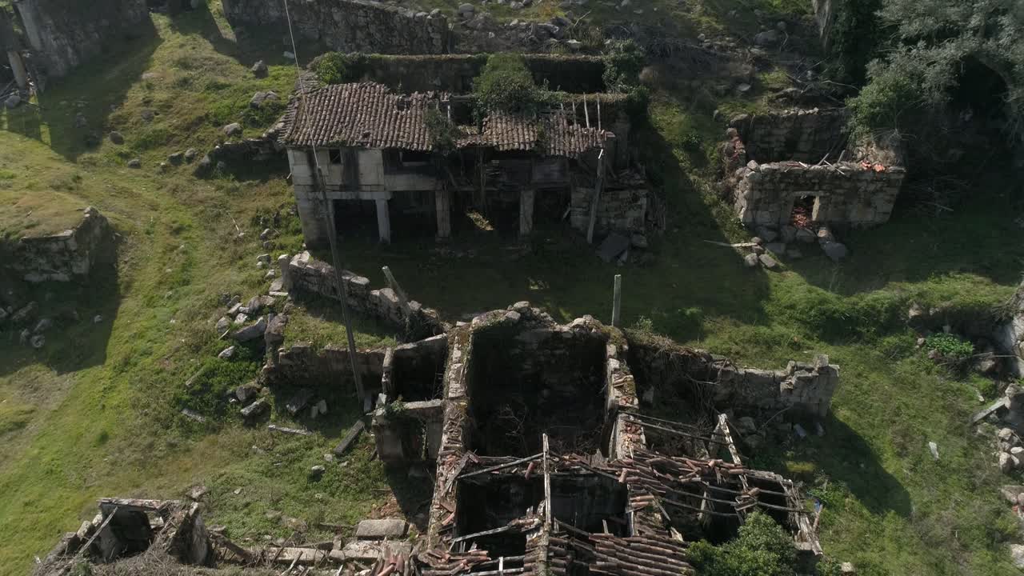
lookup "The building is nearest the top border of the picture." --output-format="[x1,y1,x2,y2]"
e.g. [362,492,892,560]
[0,0,157,81]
